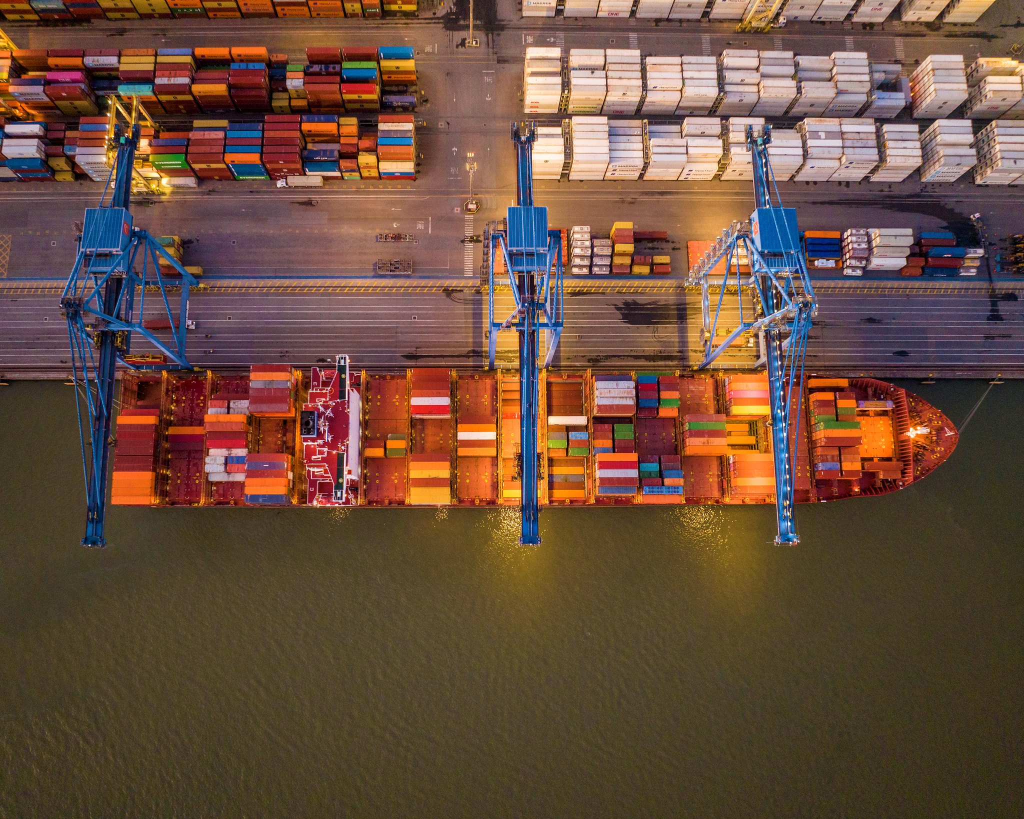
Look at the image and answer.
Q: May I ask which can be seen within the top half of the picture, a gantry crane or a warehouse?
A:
gantry crane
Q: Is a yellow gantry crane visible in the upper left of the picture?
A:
Yes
